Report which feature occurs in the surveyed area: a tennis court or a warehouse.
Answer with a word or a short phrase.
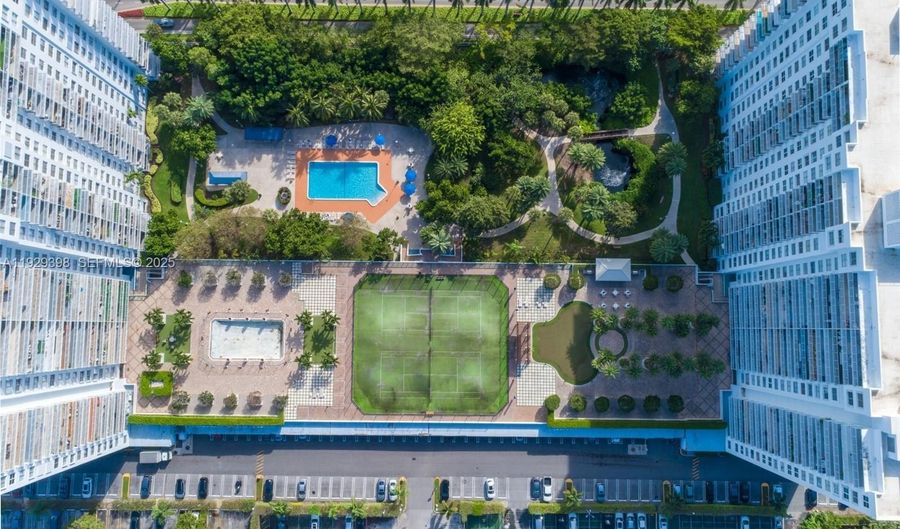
tennis court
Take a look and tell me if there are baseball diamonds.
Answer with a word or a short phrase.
No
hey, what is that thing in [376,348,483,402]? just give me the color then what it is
green tennis court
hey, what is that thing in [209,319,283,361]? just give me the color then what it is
white swimming pool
